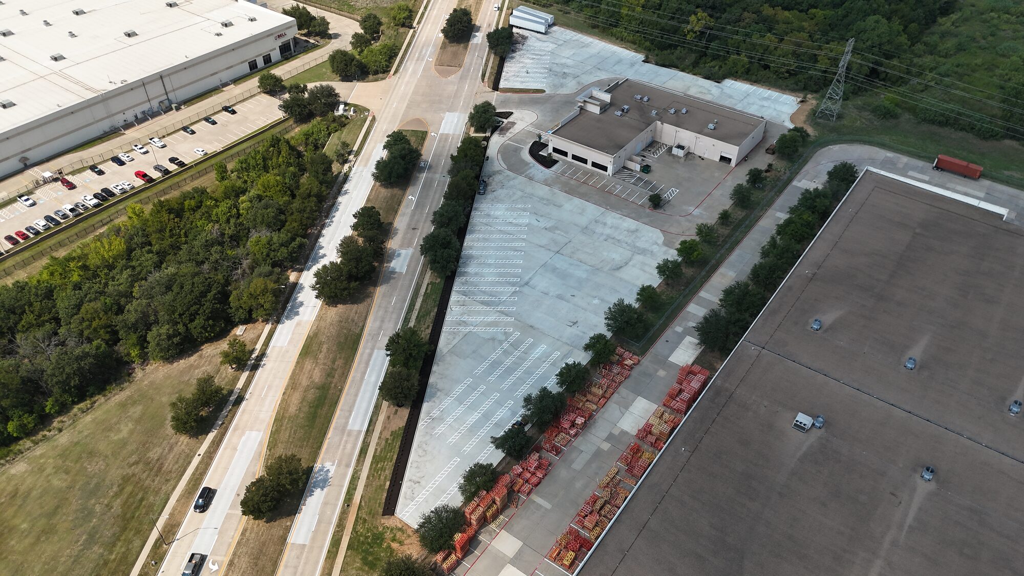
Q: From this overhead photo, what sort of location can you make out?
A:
industrial area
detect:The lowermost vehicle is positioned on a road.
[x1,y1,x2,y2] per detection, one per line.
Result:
[186,553,208,576]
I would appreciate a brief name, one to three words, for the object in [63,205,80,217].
vehicle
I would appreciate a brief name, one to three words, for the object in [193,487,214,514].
car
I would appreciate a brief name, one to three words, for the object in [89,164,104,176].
vehicle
